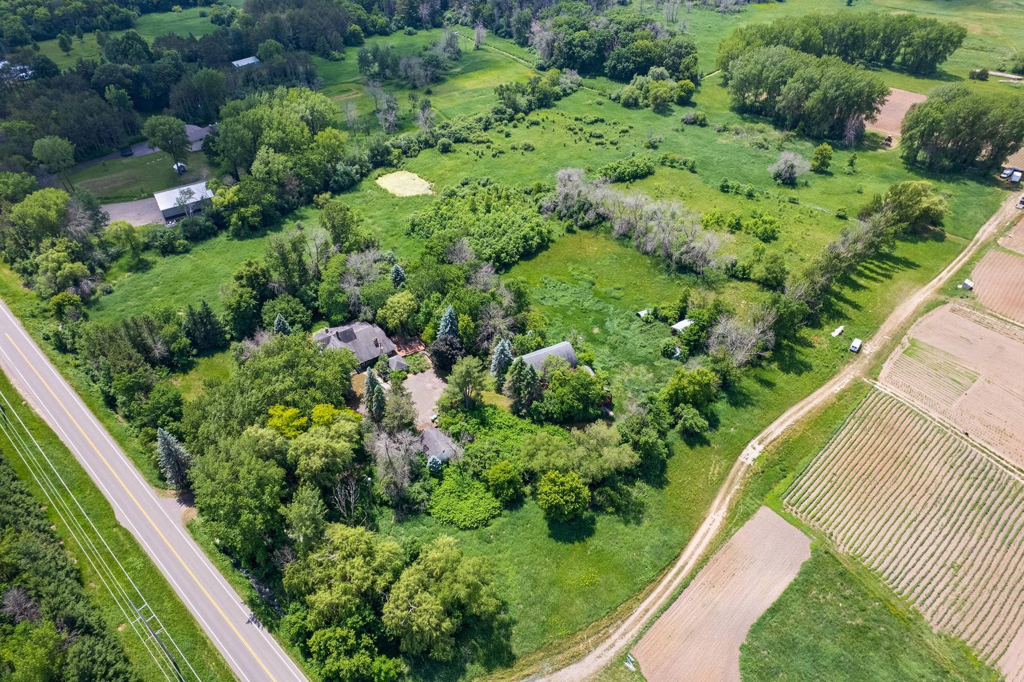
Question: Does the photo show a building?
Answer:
Yes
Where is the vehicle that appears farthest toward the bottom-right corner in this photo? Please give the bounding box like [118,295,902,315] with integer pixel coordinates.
[847,339,860,355]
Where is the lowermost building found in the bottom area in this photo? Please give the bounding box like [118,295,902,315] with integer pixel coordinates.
[417,426,462,469]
